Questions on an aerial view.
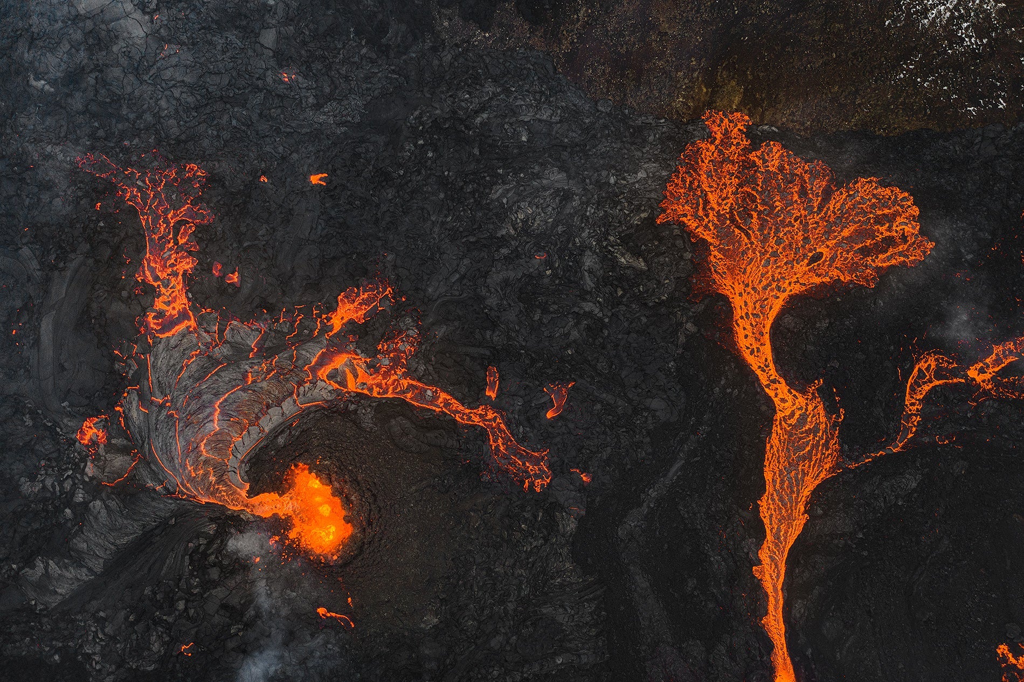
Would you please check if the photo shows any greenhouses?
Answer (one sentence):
No, I find no greenhouse anywhere in the image.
